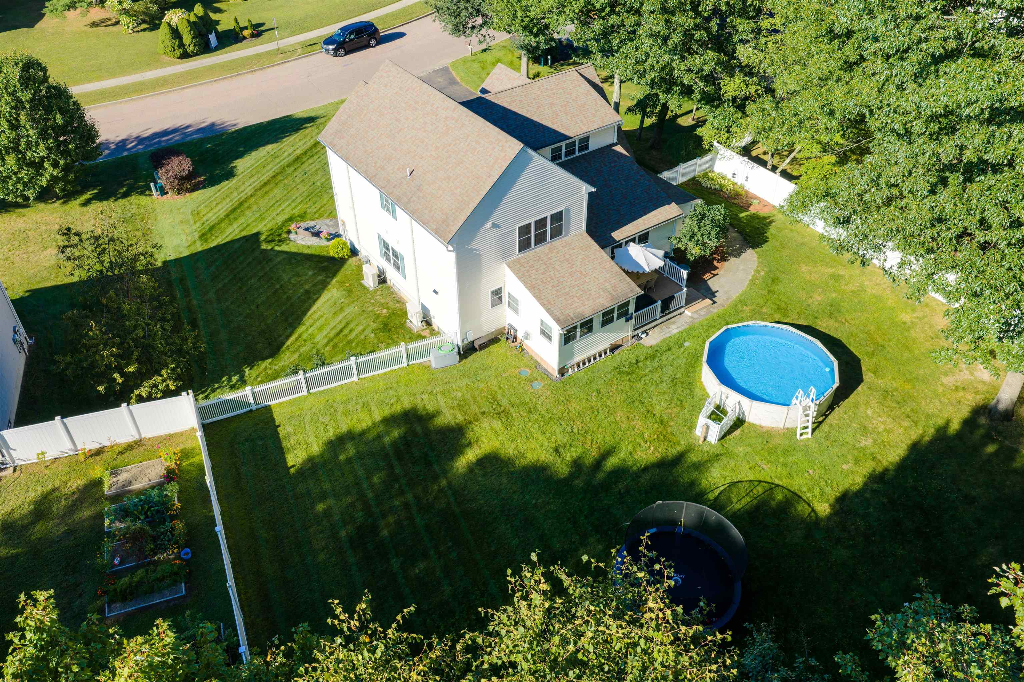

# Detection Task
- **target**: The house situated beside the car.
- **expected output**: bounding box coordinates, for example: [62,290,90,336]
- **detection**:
[316,59,698,382]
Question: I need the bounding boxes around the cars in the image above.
[317,18,382,57]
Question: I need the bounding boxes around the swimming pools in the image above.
[701,321,839,427]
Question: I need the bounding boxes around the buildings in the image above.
[316,59,698,382]
[0,279,38,429]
